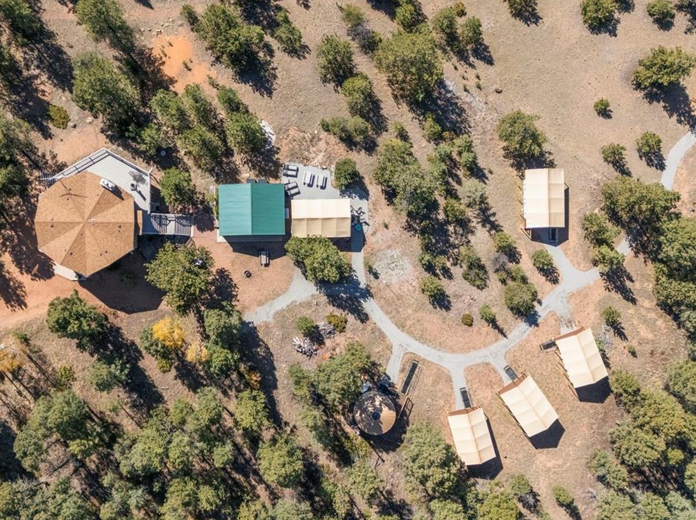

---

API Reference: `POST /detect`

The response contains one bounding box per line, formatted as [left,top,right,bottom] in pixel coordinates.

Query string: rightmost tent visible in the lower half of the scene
[539,327,608,389]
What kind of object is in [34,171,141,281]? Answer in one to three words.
house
